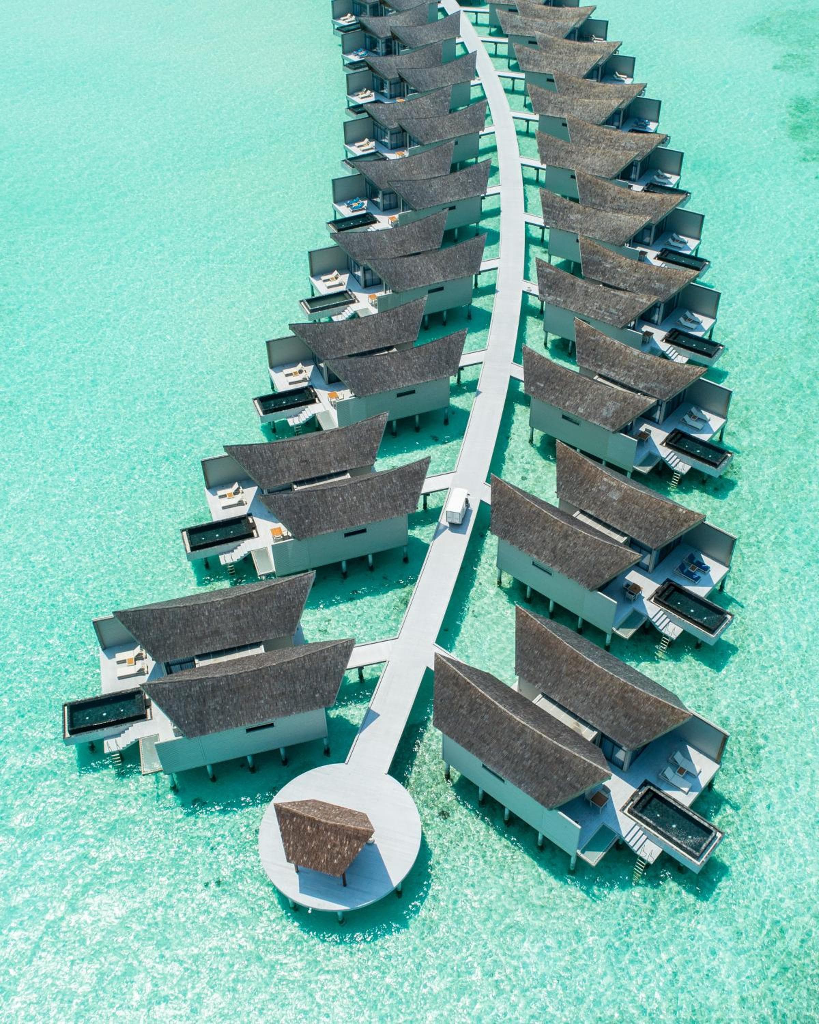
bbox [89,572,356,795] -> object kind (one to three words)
house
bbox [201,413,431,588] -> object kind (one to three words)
house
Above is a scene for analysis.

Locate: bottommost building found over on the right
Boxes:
[431,605,730,883]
